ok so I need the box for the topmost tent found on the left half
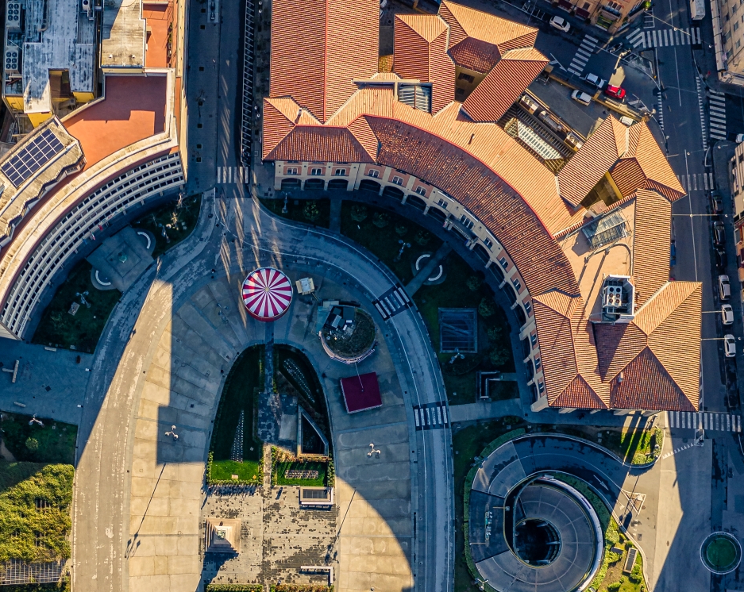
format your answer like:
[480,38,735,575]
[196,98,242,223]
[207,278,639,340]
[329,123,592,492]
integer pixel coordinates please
[241,270,292,322]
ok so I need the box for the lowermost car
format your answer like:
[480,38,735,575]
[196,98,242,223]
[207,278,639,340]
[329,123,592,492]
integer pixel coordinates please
[724,331,738,358]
